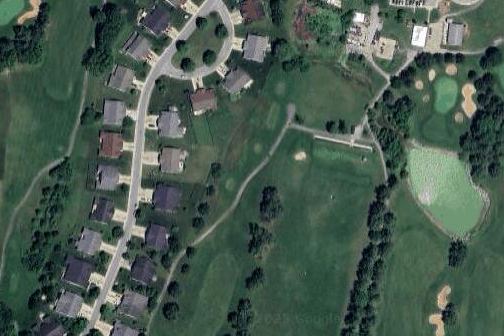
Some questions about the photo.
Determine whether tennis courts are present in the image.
No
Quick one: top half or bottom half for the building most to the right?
top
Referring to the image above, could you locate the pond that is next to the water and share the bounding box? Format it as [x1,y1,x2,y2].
[407,148,483,237]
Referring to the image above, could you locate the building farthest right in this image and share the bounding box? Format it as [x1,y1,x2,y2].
[442,21,464,46]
